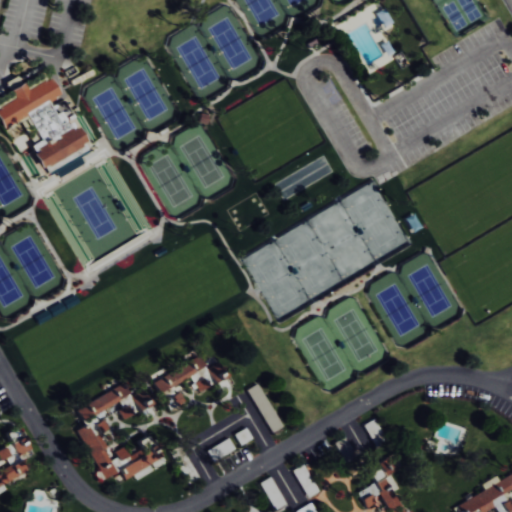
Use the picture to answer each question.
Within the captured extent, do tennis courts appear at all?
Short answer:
Yes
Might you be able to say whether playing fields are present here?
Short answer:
Yes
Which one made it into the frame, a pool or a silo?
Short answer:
pool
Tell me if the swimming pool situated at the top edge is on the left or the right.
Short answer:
right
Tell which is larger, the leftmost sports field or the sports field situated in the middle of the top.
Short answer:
the leftmost sports field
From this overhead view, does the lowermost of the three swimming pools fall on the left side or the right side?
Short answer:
left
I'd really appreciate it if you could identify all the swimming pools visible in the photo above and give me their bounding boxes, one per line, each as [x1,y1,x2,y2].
[25,488,58,512]
[332,3,398,74]
[434,422,466,454]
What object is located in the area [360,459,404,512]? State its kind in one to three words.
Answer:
house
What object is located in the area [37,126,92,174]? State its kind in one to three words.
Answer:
building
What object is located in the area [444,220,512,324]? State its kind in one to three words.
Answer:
sports field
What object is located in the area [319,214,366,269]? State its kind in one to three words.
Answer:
tennis court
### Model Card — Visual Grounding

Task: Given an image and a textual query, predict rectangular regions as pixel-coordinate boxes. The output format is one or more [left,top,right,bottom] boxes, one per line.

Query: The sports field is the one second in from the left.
[220,82,323,180]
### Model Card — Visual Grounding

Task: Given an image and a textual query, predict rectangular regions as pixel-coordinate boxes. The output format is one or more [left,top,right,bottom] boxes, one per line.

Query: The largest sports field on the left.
[15,234,240,398]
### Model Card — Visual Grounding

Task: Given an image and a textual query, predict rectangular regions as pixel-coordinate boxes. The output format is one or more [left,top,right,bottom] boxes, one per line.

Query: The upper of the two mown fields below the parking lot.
[408,132,512,253]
